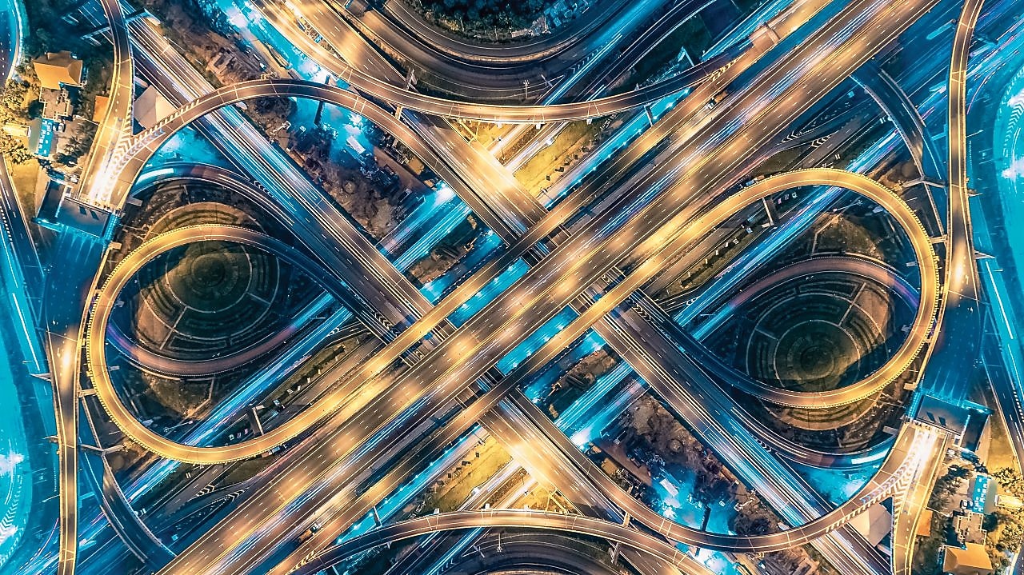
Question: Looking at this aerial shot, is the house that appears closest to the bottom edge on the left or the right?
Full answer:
The house that appears closest to the bottom edge is on the right side of the image.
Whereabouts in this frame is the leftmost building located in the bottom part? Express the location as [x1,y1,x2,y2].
[850,505,892,547]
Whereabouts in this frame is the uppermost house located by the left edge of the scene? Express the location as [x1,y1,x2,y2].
[33,49,88,92]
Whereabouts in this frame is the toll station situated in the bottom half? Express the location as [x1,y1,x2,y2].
[904,392,969,436]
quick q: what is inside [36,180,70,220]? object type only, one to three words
building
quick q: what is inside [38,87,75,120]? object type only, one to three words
house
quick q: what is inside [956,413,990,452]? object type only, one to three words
building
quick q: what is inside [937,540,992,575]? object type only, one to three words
house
